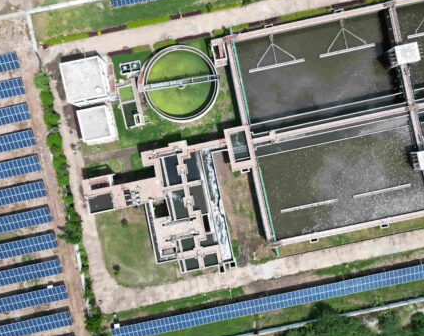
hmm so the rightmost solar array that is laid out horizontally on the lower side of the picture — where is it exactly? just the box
[112,266,424,336]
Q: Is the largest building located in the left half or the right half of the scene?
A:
left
